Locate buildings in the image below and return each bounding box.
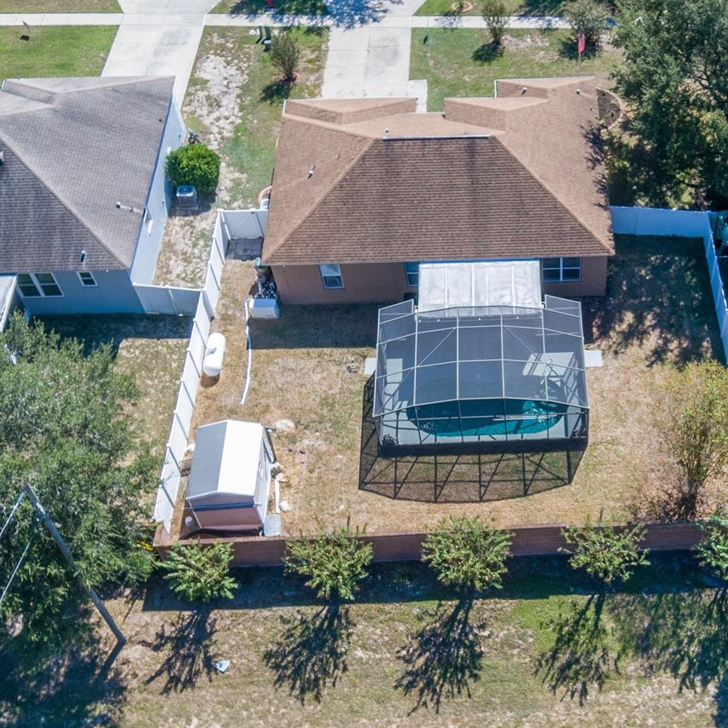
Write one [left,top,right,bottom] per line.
[187,421,277,529]
[259,74,617,306]
[0,70,186,317]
